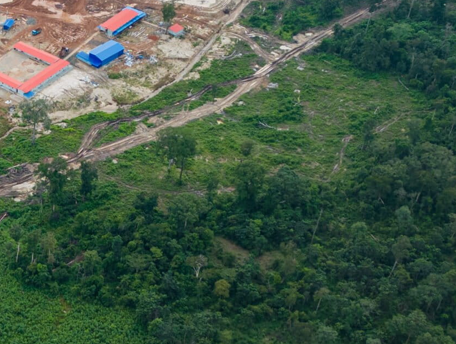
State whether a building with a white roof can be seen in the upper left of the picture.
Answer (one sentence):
No, there's no building with a white roof to be seen in the upper left of the picture.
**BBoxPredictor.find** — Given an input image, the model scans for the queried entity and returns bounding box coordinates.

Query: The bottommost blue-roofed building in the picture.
[77,41,124,68]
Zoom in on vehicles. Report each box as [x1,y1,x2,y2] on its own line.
[26,27,43,36]
[59,46,70,57]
